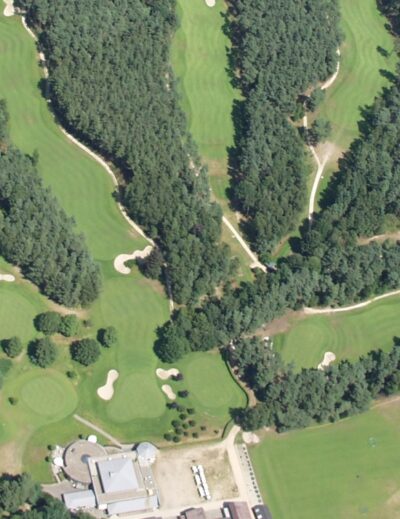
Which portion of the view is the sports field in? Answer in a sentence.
The sports field is in the bottom right part of the image.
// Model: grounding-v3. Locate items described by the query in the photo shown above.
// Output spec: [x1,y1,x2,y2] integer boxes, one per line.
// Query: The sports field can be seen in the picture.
[252,394,400,519]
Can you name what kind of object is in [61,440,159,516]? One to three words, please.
building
